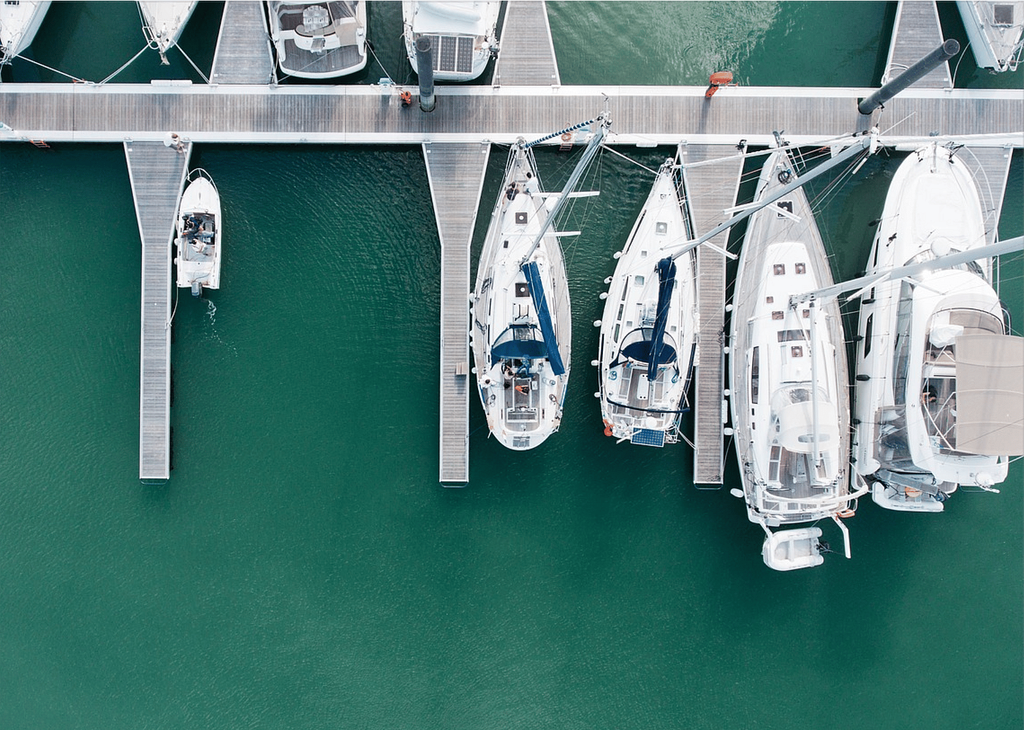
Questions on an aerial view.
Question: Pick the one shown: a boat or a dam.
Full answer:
There is a boat in the scene.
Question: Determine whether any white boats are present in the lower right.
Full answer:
Yes, you'll find a white boat in the lower right.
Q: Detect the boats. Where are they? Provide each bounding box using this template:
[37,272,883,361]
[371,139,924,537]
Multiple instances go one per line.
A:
[270,0,369,82]
[955,0,1024,75]
[138,0,202,62]
[472,86,624,450]
[0,0,54,61]
[176,168,224,296]
[400,0,499,86]
[763,533,832,570]
[603,105,896,447]
[848,145,1024,495]
[725,126,1024,558]
[875,475,951,511]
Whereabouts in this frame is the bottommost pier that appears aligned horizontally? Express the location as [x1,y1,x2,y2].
[0,83,1024,150]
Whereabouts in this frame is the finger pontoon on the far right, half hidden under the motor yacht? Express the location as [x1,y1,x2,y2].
[948,145,1015,301]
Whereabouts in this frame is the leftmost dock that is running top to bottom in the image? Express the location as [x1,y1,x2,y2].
[123,140,192,485]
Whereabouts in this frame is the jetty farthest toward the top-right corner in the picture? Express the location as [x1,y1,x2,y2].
[879,0,957,89]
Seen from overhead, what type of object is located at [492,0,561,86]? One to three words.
pier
